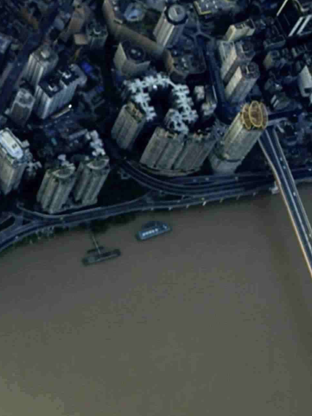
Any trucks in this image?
No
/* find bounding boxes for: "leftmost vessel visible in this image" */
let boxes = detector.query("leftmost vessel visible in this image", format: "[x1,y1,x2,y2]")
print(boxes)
[83,248,121,265]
